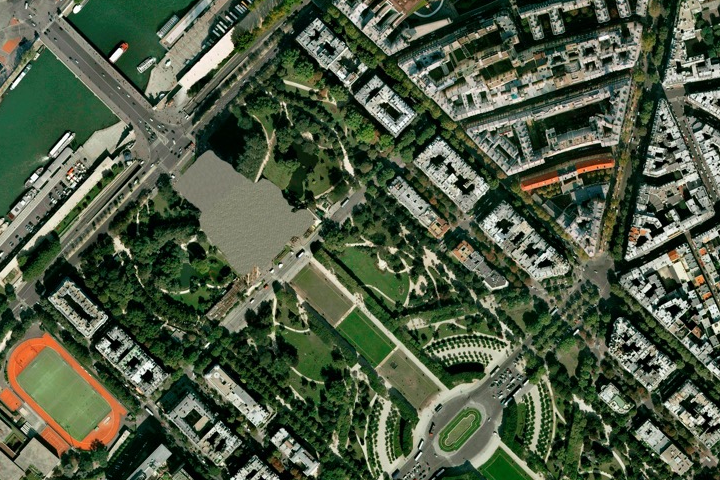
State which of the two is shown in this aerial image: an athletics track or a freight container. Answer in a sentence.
The image shows an athletics track.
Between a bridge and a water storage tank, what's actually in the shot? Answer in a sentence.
There is a bridge in the scene.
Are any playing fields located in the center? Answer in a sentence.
No, no playing field can be made out in the center.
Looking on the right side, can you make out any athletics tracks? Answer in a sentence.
No, no athletics track is visible on the right side.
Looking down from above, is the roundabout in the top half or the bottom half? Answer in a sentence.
The roundabout sits in the bottom half of the picture.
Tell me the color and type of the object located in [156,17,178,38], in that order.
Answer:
gray boat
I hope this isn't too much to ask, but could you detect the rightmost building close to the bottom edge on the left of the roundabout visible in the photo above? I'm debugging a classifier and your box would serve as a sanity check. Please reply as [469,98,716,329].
[270,428,321,477]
